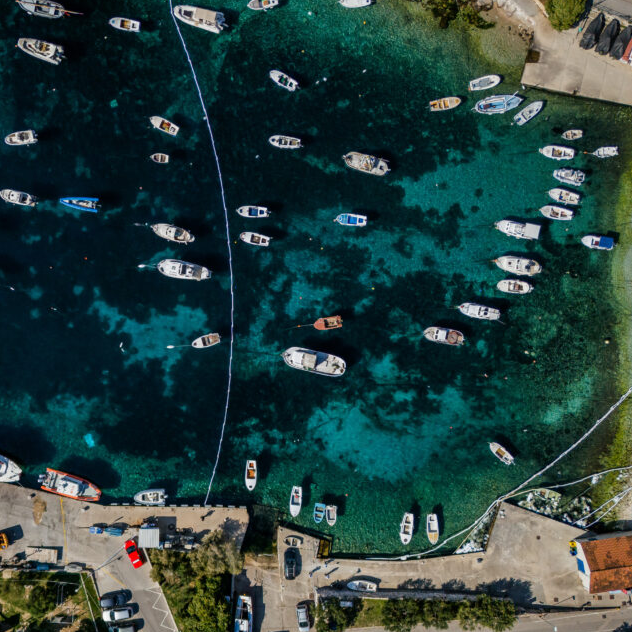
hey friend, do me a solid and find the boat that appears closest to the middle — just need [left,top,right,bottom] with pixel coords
[304,315,346,331]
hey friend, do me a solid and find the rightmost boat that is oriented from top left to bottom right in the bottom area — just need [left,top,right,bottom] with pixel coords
[460,424,517,467]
